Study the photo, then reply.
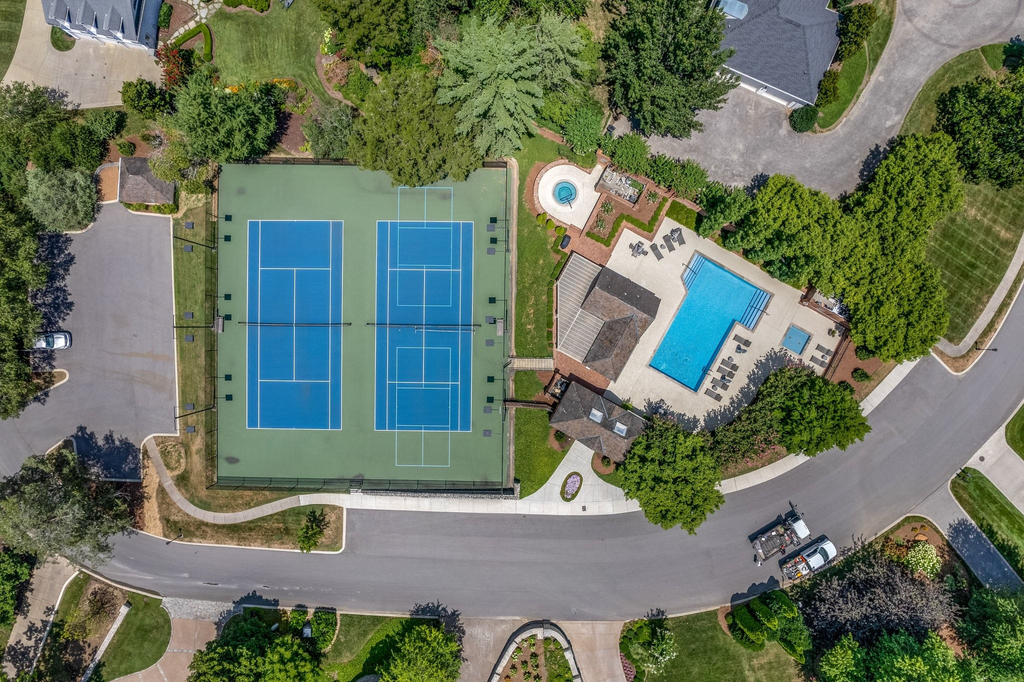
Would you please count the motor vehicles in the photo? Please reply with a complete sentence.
In total, 3 motor vehicles can be seen.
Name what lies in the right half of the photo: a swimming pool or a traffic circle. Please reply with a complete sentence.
Visible in the right half of the photo is a swimming pool.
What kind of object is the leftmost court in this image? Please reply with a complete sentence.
I'd say the leftmost court is a tennis court.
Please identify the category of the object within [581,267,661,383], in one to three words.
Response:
building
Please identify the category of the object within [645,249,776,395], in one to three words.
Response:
swimming pool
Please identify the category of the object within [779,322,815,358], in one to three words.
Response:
swimming pool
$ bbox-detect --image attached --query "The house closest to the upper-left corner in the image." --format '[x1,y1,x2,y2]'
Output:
[39,0,164,63]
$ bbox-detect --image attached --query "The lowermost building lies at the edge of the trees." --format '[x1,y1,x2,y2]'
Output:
[548,379,648,462]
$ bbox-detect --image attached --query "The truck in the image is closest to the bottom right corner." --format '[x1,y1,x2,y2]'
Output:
[780,540,835,582]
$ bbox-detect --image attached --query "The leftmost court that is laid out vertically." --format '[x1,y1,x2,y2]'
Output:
[216,164,359,489]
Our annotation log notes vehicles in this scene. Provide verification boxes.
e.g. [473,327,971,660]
[751,514,815,562]
[25,330,70,351]
[780,540,835,582]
